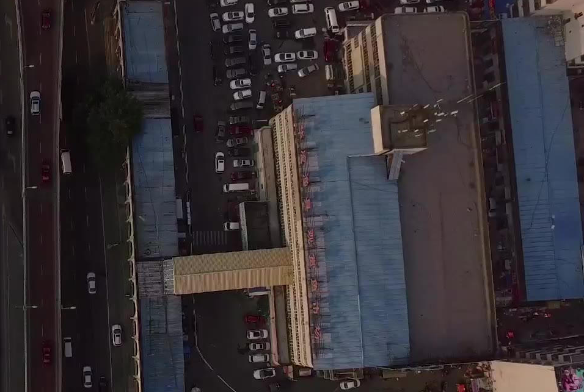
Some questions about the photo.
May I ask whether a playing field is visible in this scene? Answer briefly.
No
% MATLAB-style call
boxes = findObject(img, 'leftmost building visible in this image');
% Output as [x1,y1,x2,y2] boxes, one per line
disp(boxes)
[115,0,186,392]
